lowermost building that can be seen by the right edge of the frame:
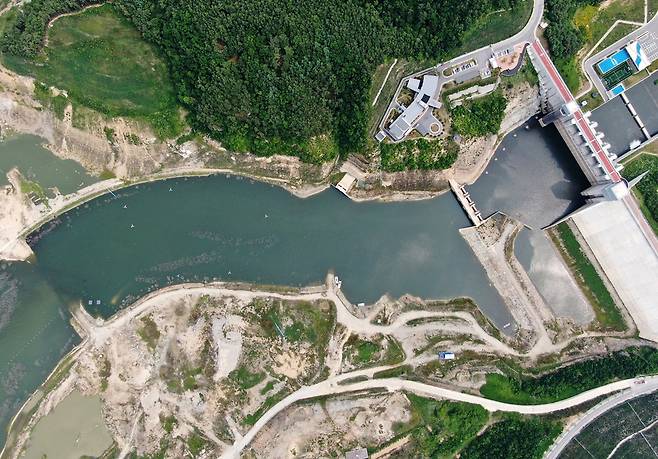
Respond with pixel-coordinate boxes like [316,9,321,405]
[601,178,630,202]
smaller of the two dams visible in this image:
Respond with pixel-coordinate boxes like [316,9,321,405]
[449,178,484,228]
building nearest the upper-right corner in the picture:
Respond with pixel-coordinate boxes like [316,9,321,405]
[622,40,652,73]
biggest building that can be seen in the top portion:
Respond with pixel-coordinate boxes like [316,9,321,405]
[384,75,442,143]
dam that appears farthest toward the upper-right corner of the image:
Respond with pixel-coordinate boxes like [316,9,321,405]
[528,37,623,190]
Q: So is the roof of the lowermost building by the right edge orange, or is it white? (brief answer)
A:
white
